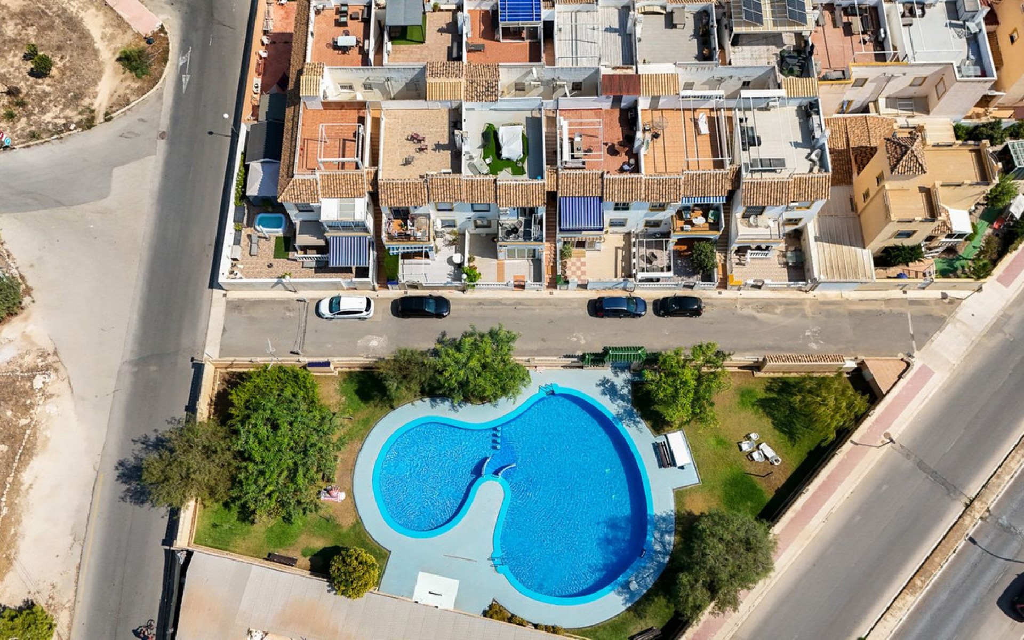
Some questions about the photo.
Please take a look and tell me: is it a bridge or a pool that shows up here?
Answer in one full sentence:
The one in the frame is a pool.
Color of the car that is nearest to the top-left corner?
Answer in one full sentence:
In this view, the car that is nearest to the top-left corner is white.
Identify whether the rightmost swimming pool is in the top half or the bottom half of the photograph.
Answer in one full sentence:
The rightmost swimming pool is in the bottom half of the image.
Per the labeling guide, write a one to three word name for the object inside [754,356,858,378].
shed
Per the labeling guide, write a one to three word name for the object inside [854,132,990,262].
house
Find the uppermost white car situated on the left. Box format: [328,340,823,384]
[321,293,374,321]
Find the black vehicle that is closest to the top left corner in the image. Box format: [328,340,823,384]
[399,292,450,320]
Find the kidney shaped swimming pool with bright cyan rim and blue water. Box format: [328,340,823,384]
[372,383,654,604]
